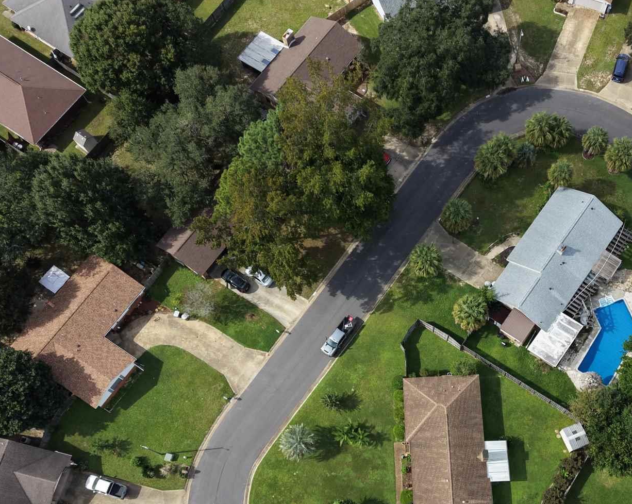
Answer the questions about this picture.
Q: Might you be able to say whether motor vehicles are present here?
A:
Yes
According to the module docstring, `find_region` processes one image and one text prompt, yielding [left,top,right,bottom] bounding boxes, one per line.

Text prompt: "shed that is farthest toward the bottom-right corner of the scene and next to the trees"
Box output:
[559,423,590,452]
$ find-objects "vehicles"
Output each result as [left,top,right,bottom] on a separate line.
[242,264,275,290]
[84,474,131,499]
[321,312,360,357]
[611,57,631,85]
[220,267,252,295]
